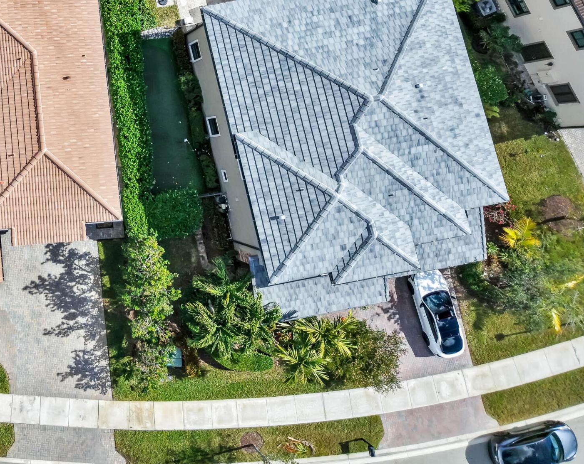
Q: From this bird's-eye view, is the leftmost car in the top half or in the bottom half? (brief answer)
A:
bottom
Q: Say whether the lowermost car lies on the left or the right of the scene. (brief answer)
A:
right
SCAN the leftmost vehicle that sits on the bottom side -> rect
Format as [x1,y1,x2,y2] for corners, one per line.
[401,271,462,359]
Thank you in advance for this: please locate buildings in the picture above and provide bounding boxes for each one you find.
[183,0,511,326]
[0,0,123,282]
[492,0,584,152]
